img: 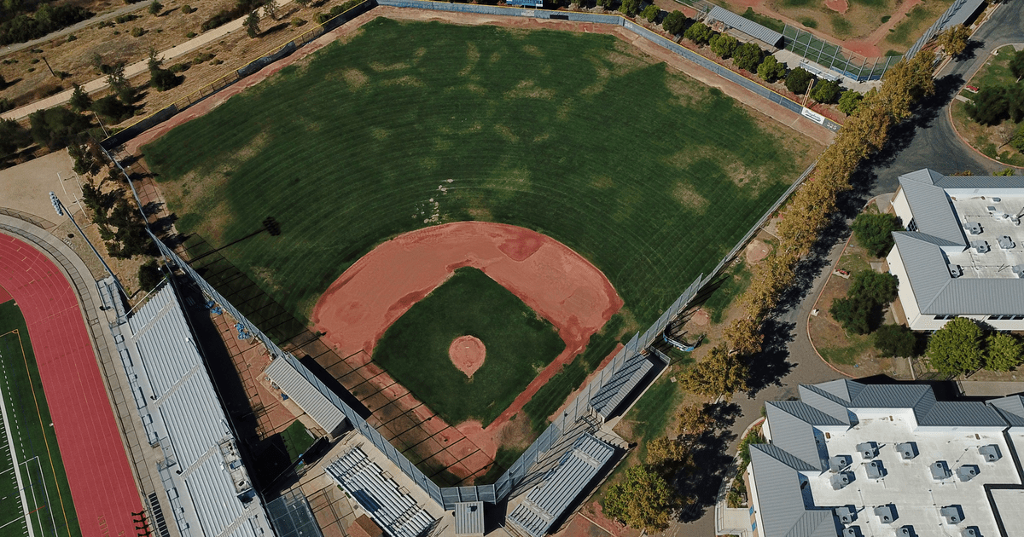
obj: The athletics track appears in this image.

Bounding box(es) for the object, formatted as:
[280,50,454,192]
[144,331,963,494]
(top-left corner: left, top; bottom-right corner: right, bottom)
[0,233,148,537]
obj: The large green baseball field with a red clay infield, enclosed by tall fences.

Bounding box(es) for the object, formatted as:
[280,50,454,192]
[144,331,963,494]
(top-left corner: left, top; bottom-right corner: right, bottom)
[105,6,837,510]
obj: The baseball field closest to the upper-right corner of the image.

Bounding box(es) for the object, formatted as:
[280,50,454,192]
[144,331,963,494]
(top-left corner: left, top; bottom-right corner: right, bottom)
[701,0,969,82]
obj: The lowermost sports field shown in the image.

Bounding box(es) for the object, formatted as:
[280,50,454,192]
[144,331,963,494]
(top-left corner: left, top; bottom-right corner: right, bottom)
[0,300,82,537]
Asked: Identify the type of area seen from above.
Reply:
sports ground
